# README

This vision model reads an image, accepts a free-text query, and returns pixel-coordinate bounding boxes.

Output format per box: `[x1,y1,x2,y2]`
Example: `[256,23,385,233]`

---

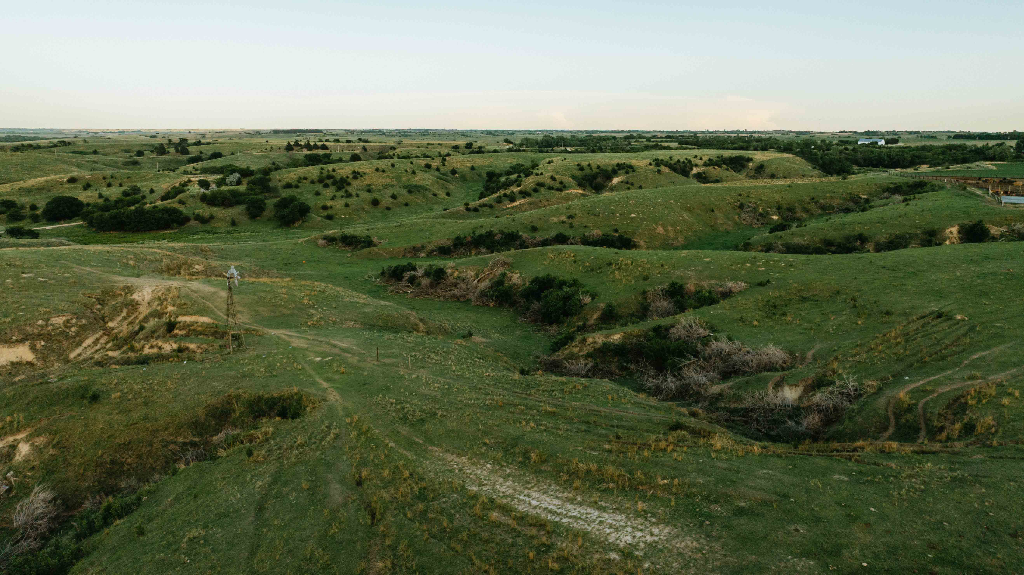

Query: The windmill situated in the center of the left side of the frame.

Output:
[221,267,243,351]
